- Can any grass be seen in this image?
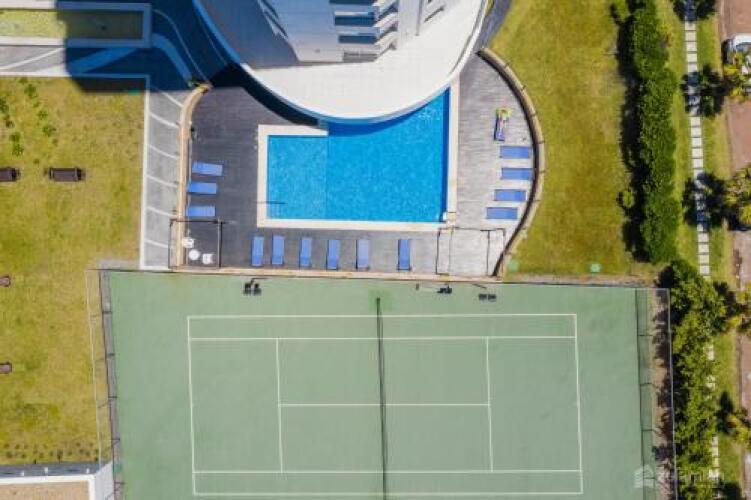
Yes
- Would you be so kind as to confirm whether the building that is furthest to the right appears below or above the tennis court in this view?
above it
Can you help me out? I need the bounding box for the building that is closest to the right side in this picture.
[199,0,490,120]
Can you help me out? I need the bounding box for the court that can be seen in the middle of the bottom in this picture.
[111,271,655,500]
